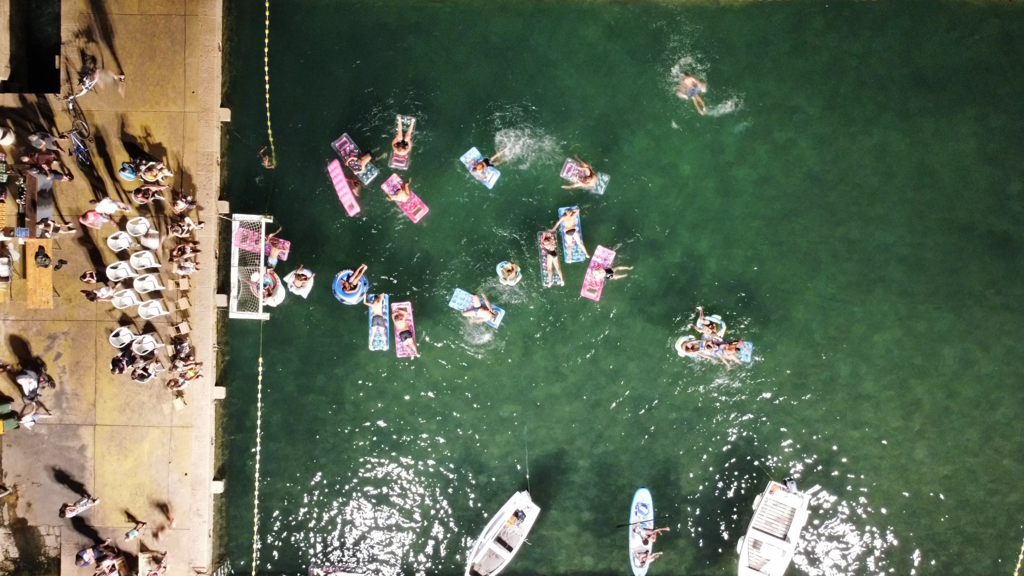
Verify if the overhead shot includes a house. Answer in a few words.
No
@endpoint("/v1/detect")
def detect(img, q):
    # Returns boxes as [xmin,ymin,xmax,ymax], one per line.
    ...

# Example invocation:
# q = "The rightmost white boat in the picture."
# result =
[737,483,814,576]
